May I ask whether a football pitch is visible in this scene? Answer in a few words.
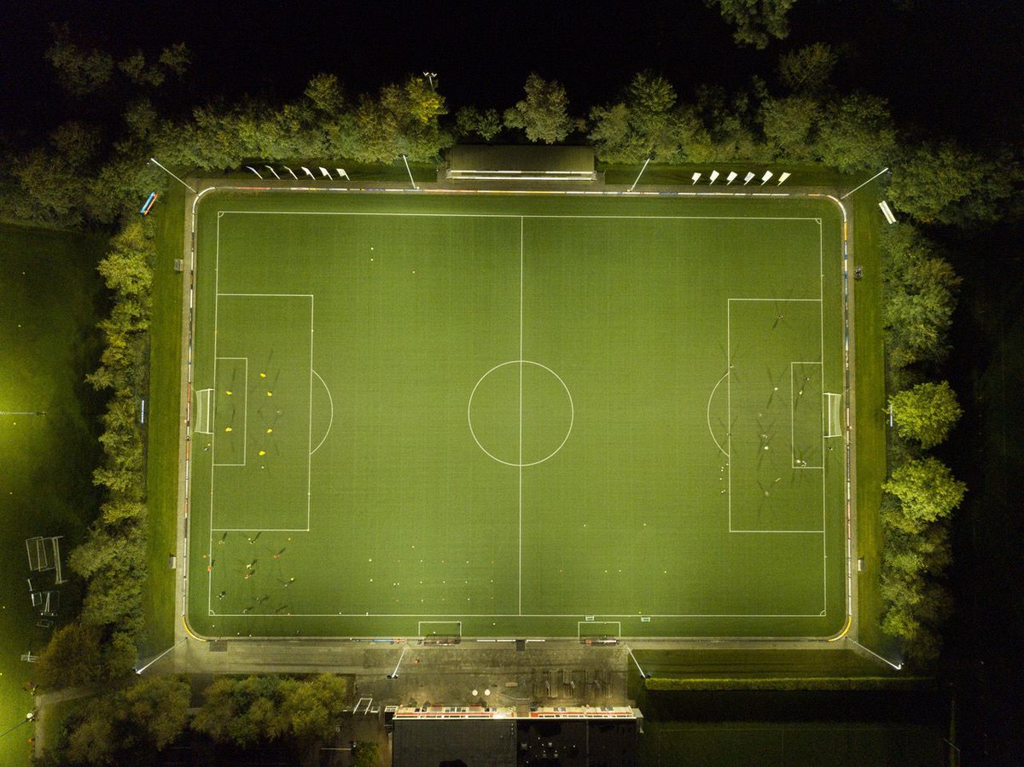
Yes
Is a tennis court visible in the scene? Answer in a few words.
No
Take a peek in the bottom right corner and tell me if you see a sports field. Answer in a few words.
Yes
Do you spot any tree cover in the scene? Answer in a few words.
Yes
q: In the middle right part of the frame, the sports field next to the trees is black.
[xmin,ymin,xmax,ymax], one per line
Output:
[960,224,1024,674]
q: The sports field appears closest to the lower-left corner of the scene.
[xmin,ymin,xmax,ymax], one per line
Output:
[0,224,108,767]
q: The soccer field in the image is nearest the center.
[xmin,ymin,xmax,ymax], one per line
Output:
[188,190,846,637]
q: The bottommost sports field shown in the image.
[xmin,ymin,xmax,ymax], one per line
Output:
[642,717,940,767]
